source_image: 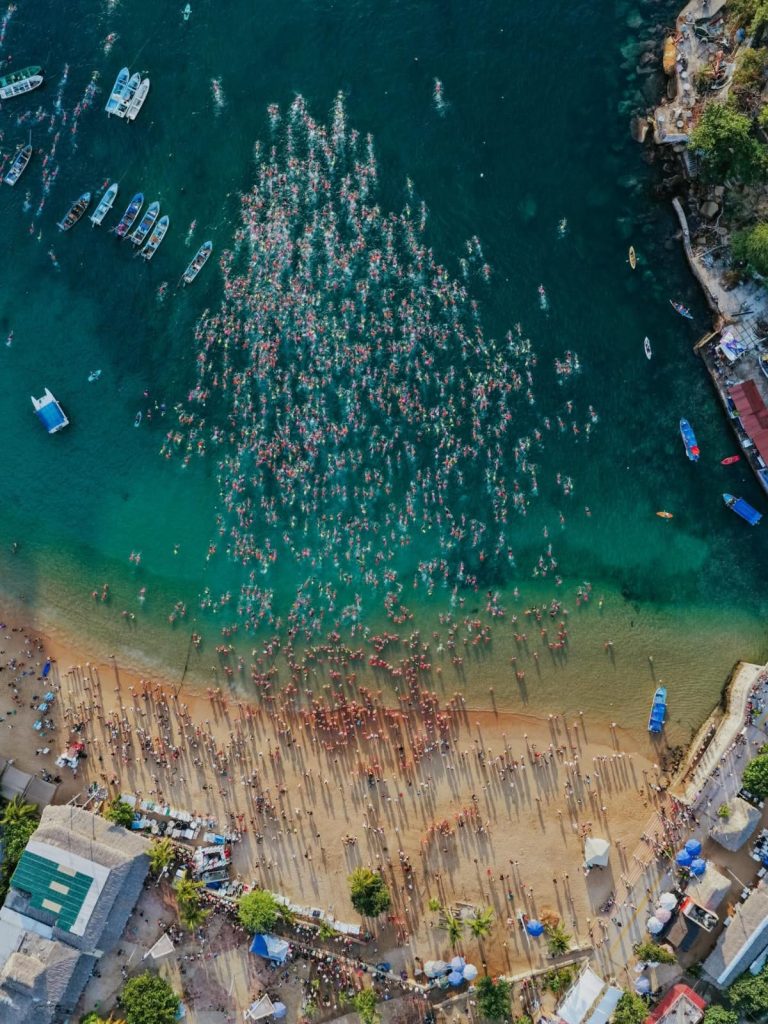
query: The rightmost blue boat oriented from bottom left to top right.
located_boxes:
[181,239,212,284]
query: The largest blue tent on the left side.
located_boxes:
[249,934,291,966]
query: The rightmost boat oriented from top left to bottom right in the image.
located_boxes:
[724,493,766,528]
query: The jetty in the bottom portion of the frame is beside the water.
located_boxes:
[667,659,764,799]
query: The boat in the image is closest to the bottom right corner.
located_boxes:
[647,684,668,736]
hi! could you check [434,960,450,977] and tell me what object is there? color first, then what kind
white umbrella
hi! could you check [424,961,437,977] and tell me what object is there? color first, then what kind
white umbrella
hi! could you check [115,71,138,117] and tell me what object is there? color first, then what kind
blue boat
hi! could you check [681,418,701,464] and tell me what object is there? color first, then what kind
blue boat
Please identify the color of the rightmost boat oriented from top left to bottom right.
blue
